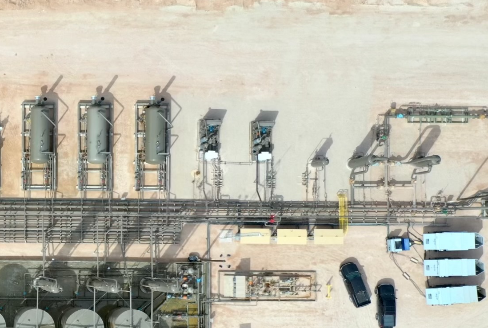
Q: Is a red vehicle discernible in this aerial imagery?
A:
No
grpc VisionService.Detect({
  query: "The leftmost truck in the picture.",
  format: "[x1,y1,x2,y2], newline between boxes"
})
[339,262,371,307]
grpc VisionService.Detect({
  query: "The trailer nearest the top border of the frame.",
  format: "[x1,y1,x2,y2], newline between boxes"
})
[425,232,483,251]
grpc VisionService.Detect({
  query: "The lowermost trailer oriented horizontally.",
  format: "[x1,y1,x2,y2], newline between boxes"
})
[427,285,487,305]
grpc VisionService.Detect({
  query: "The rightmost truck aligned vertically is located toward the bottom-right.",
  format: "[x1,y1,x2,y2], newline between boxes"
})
[375,281,396,328]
